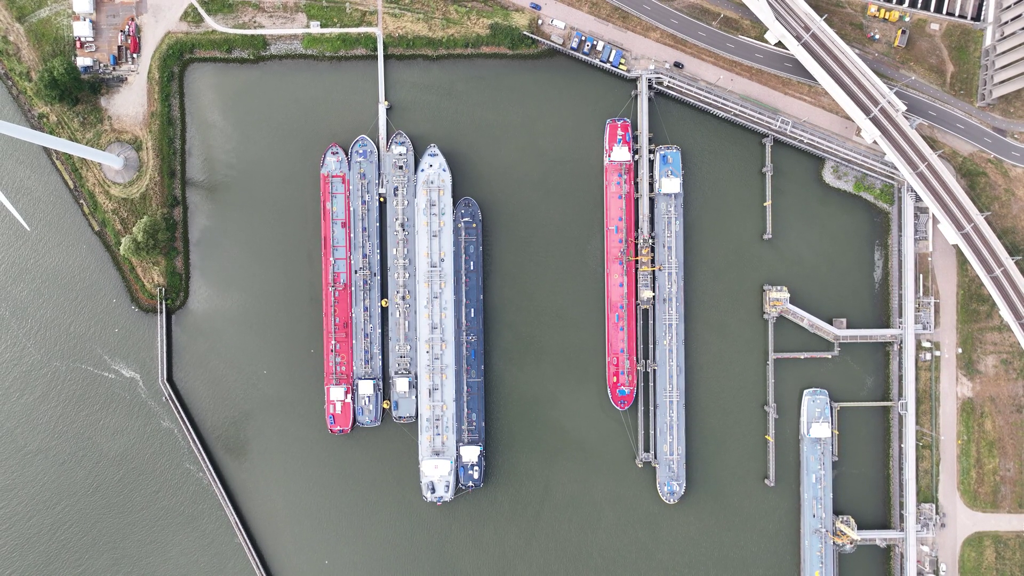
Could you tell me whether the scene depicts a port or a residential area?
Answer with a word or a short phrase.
port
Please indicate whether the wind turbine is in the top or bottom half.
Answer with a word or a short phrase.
top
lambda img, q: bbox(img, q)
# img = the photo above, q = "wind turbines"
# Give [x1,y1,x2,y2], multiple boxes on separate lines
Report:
[0,118,139,229]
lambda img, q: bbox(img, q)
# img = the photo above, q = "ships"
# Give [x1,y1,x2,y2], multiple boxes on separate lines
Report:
[348,134,383,427]
[797,387,833,576]
[453,197,485,493]
[603,118,637,411]
[414,143,457,504]
[386,130,418,423]
[320,142,354,435]
[653,144,686,505]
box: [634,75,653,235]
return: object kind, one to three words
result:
pier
